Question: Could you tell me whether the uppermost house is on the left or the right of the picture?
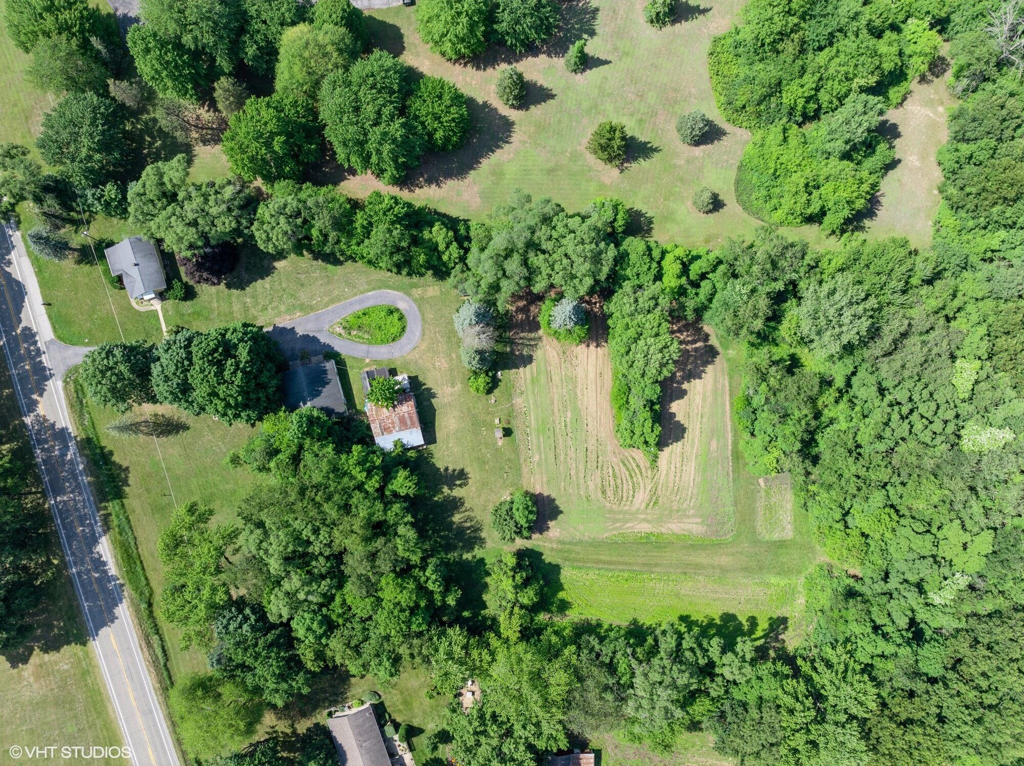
left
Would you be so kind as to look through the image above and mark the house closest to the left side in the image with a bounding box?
[104,235,170,307]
